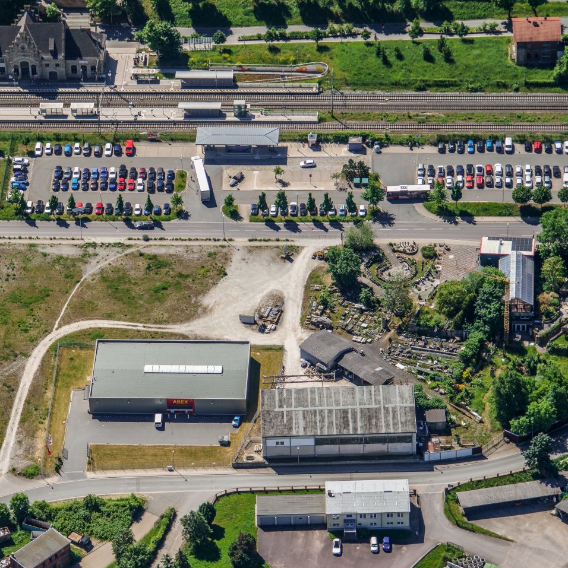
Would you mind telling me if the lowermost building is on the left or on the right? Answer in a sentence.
It is on the left.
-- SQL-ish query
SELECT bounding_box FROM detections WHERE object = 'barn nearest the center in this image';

[301,330,354,378]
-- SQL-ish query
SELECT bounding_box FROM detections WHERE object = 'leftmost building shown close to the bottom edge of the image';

[11,529,70,568]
